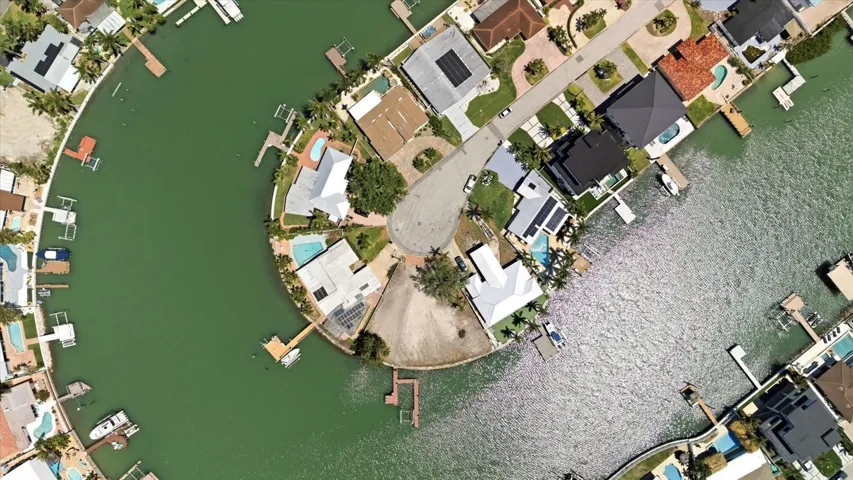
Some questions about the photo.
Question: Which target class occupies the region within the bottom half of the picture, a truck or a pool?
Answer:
pool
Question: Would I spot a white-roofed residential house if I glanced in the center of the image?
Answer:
Yes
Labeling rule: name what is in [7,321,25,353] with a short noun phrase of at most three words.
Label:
swimming pool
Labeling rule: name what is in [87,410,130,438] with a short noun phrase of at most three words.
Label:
boat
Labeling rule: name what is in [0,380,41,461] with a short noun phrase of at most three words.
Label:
house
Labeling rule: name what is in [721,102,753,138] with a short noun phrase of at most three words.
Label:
pier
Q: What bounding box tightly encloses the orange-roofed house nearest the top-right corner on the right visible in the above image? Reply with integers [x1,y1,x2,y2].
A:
[657,33,729,101]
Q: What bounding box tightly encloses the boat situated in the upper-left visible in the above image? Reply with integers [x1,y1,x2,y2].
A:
[219,0,242,21]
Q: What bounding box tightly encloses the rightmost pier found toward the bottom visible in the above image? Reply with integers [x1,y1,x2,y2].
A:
[779,292,822,342]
